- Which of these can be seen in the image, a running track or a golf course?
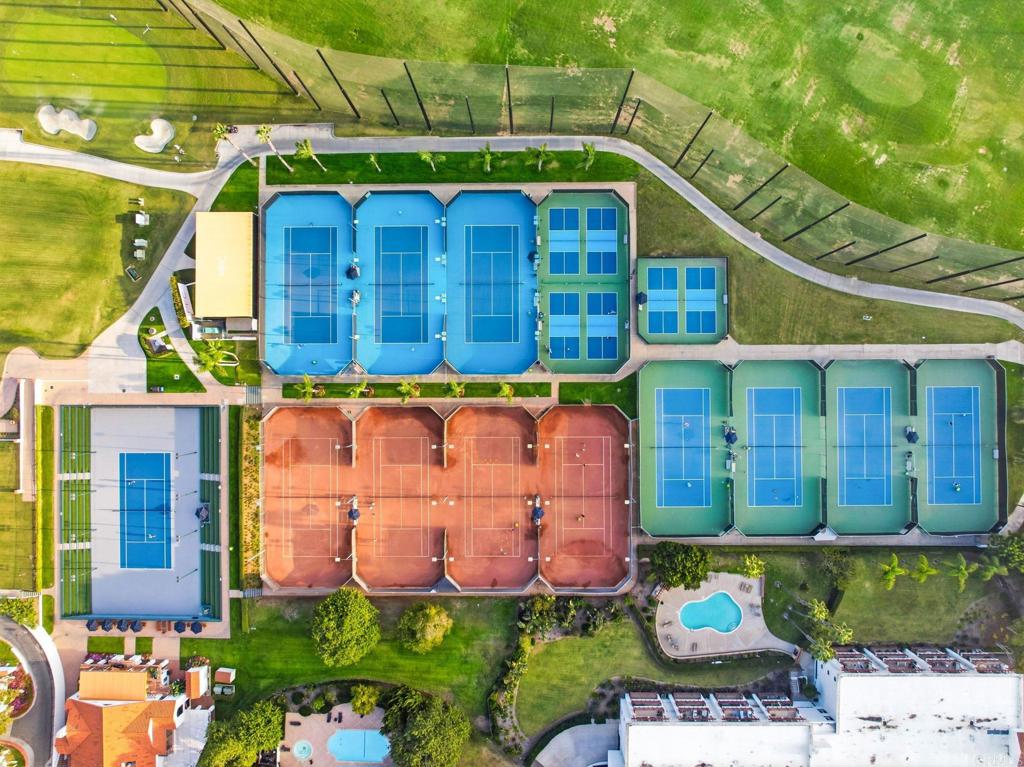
golf course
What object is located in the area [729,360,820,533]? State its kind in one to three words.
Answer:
tennis court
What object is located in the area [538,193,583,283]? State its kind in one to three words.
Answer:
sports court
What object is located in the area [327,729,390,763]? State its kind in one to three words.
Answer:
swimming pool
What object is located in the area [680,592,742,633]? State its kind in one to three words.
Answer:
swimming pool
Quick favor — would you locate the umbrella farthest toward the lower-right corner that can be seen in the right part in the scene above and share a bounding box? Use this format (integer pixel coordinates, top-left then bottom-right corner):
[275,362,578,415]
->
[904,430,918,443]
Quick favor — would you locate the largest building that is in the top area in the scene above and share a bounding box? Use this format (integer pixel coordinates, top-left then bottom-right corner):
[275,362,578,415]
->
[195,212,260,317]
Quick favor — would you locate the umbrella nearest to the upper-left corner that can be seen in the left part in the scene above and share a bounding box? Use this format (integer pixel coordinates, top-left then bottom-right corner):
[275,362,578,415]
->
[346,266,360,280]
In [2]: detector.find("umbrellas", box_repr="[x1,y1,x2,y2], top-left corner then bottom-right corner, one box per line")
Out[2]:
[132,621,144,631]
[191,621,204,632]
[526,252,536,262]
[724,431,737,444]
[117,621,131,630]
[348,508,360,520]
[635,292,648,304]
[346,266,360,280]
[86,621,100,630]
[531,506,544,519]
[195,506,210,520]
[174,621,188,632]
[904,430,918,443]
[102,621,116,631]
